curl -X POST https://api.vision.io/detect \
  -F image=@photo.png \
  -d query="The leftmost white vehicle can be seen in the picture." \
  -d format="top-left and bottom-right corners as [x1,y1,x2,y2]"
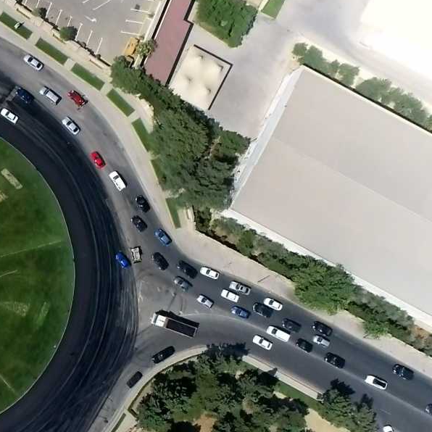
[0,108,19,125]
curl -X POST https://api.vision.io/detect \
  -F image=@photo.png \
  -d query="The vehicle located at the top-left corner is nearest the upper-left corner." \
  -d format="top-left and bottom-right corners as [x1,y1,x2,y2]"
[22,54,44,71]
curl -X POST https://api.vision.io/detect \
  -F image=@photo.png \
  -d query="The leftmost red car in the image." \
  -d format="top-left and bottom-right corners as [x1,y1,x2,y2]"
[66,89,88,108]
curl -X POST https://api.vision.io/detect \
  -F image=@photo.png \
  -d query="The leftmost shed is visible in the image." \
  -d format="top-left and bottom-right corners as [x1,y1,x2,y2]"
[142,0,194,88]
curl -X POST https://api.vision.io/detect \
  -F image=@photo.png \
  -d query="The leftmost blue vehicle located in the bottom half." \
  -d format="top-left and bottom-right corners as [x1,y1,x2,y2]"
[115,250,131,270]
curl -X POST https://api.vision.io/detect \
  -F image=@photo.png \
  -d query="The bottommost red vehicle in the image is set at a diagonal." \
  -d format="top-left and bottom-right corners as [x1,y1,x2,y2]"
[90,151,106,171]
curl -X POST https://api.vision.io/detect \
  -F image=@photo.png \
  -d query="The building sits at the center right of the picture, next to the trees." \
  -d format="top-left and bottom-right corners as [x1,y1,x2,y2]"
[222,67,432,325]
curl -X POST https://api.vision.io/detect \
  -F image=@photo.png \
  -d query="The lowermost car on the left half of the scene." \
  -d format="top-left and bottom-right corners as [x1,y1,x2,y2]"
[125,370,143,388]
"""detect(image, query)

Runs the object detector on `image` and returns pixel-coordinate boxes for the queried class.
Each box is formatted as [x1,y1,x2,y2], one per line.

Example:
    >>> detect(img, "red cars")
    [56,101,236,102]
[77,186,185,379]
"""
[66,89,88,108]
[90,151,106,171]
